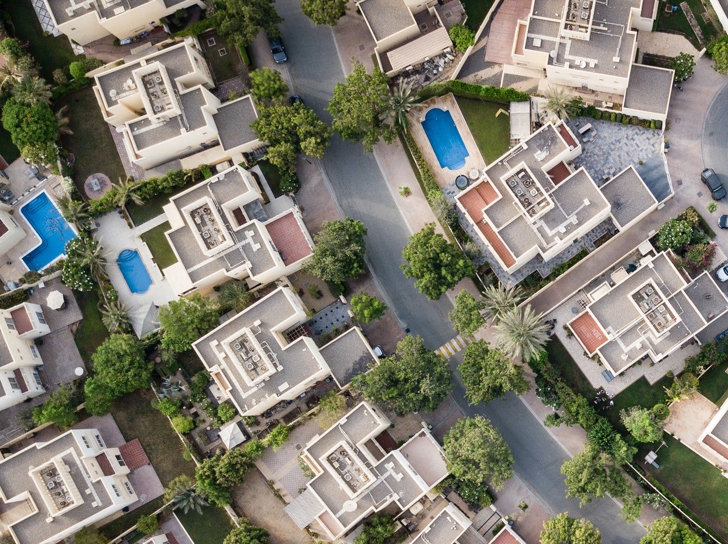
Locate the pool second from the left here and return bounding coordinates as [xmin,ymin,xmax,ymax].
[111,243,158,300]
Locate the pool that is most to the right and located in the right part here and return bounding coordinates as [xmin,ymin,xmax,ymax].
[417,104,472,174]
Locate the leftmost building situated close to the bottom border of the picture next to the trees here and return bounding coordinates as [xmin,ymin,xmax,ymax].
[0,429,139,544]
